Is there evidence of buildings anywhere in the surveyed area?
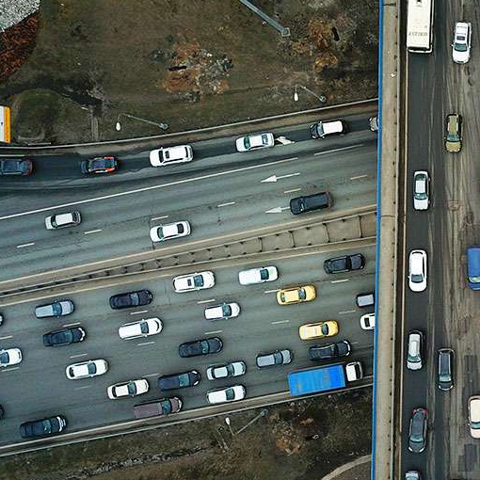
No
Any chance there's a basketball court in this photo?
No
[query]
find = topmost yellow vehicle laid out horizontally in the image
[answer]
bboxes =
[276,285,318,306]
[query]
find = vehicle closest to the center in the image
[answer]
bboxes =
[239,265,279,286]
